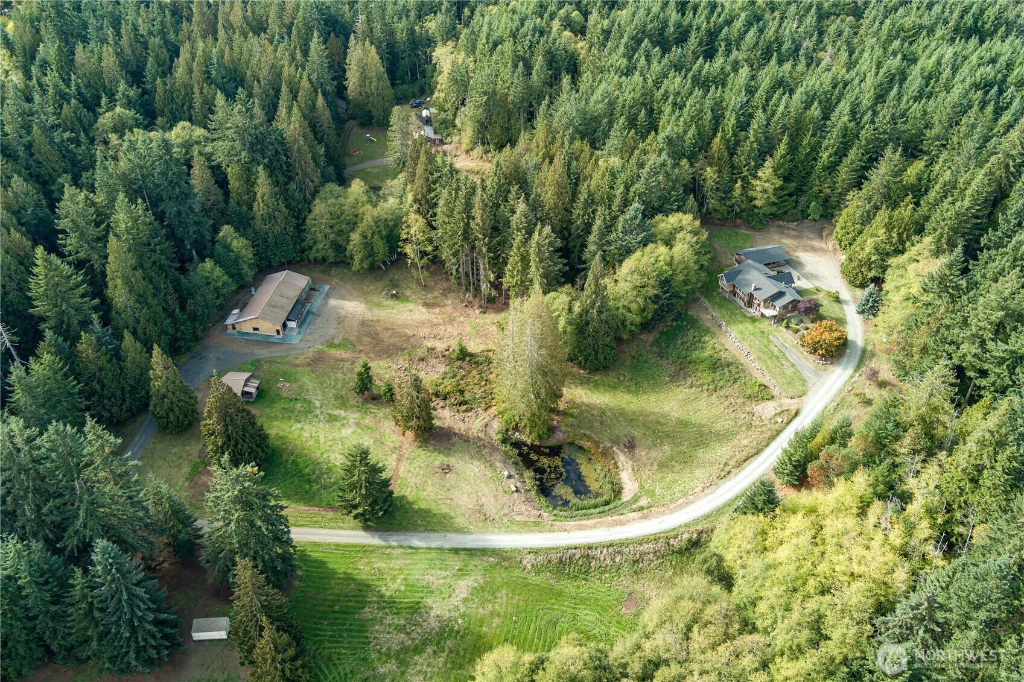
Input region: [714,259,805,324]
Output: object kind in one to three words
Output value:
house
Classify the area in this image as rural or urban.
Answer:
rural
